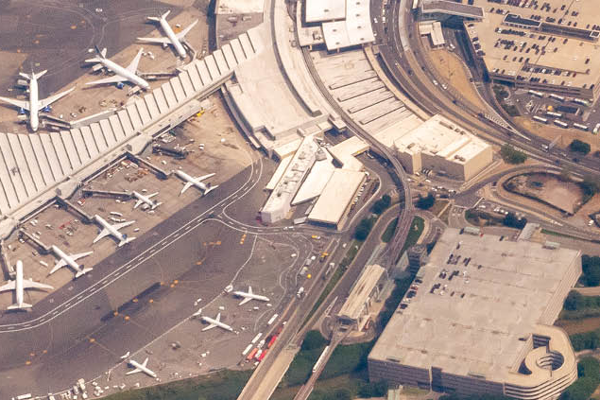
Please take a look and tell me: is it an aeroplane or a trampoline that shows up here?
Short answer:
aeroplane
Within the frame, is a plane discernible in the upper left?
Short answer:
Yes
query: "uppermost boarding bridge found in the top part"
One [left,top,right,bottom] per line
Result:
[179,37,196,62]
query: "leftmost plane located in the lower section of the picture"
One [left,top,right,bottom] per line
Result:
[0,260,61,308]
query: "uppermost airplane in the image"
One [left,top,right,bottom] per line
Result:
[131,3,203,56]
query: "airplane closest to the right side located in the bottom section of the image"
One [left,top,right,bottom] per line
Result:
[231,284,269,304]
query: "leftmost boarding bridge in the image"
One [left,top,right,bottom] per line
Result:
[2,242,16,281]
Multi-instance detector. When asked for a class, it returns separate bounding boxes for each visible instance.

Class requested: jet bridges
[18,224,56,252]
[153,142,193,163]
[2,242,16,281]
[179,37,196,62]
[136,69,179,81]
[79,186,135,200]
[66,199,98,224]
[128,156,178,181]
[38,117,60,131]
[38,111,58,127]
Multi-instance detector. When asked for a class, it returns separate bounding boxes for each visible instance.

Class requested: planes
[126,353,156,377]
[93,214,135,246]
[131,3,203,56]
[231,284,269,304]
[0,260,61,308]
[0,66,77,129]
[83,43,148,89]
[49,244,94,278]
[177,170,216,194]
[135,192,159,208]
[200,310,232,329]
